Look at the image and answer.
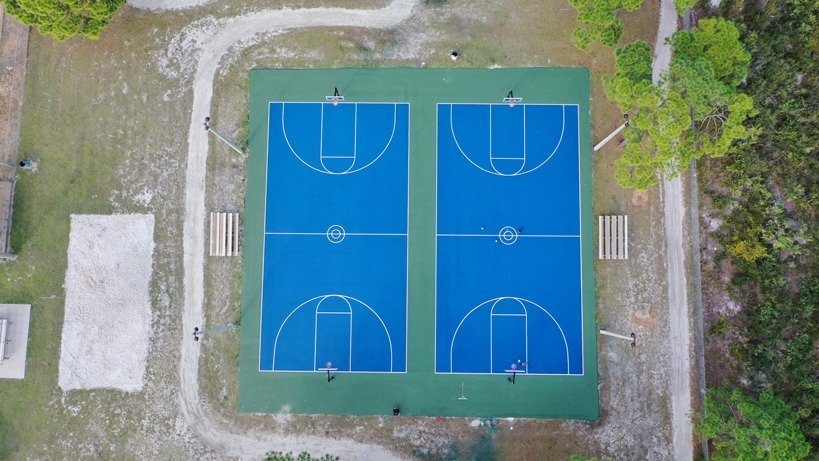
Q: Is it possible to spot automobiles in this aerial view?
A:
No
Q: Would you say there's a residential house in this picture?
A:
No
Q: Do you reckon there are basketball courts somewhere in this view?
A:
Yes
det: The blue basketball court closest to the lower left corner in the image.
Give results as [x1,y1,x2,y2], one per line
[259,102,410,373]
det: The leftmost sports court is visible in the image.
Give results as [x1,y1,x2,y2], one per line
[59,212,156,391]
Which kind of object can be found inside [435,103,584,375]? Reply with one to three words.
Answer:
basketball court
